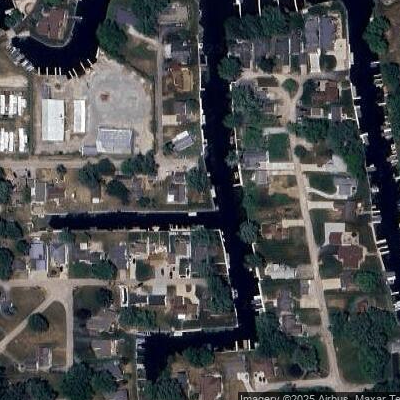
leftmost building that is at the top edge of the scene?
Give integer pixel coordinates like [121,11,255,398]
[37,7,64,39]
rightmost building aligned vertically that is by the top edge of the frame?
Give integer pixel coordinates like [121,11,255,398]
[321,17,336,54]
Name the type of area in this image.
residential area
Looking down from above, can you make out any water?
Yes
